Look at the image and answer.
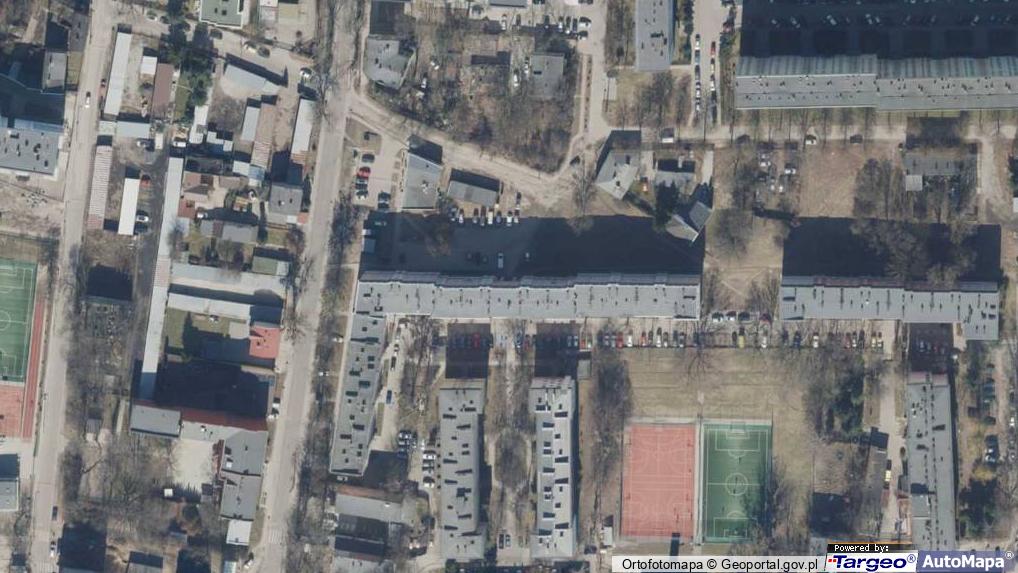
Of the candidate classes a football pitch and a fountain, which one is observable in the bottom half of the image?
football pitch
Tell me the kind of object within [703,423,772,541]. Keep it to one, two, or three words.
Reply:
soccer field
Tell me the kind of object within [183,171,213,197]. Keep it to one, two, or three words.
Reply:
house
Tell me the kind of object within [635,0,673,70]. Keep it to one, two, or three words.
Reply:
building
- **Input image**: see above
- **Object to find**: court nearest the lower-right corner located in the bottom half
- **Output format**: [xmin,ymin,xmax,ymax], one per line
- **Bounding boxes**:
[621,424,695,537]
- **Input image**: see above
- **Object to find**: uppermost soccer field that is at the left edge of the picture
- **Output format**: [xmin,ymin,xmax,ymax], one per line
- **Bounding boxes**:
[0,262,38,382]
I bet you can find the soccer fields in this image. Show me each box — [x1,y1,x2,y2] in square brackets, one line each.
[703,423,772,541]
[0,262,38,382]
